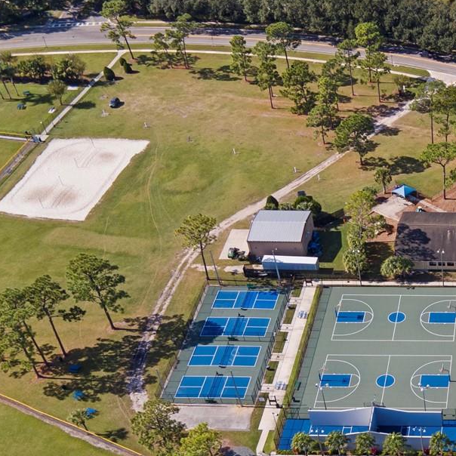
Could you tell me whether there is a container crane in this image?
No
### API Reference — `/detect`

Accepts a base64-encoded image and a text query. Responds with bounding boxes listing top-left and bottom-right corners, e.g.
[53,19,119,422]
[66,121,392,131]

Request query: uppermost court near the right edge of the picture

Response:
[324,295,456,341]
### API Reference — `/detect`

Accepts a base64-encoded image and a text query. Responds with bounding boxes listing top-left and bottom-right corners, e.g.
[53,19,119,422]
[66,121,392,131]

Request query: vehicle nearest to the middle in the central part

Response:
[225,245,240,258]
